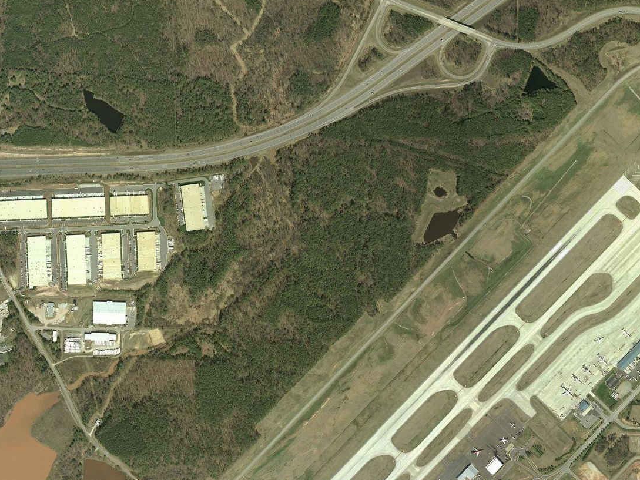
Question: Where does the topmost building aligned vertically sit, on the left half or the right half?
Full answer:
It is on the left.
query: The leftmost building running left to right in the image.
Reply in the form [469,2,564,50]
[0,199,47,220]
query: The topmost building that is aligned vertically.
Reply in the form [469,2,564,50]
[181,183,205,231]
